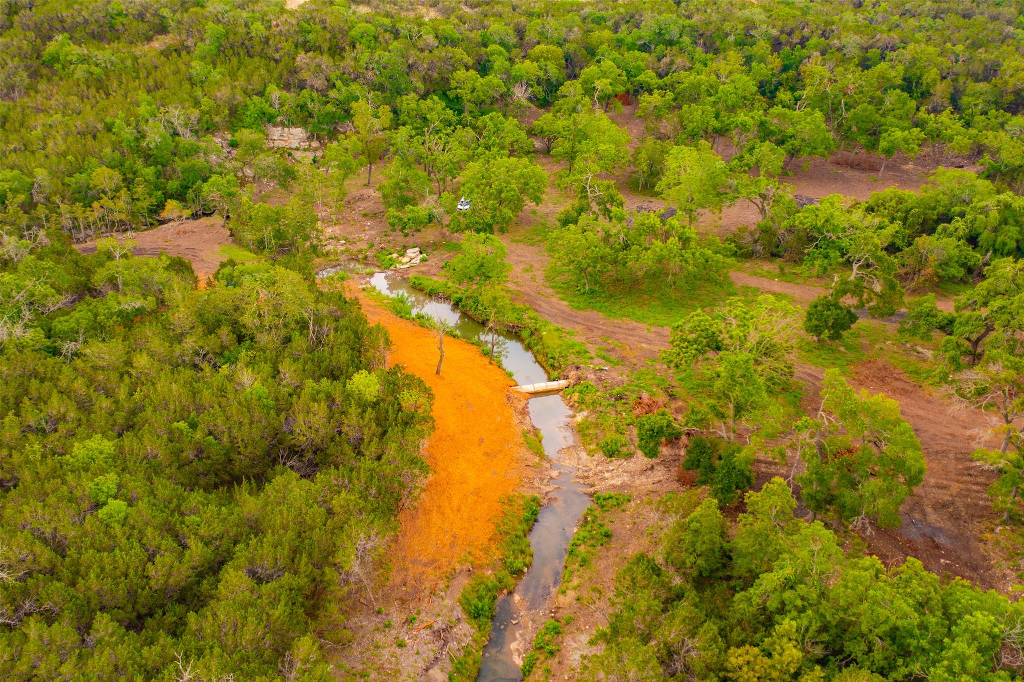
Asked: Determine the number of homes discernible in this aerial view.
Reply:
0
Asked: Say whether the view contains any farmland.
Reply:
No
